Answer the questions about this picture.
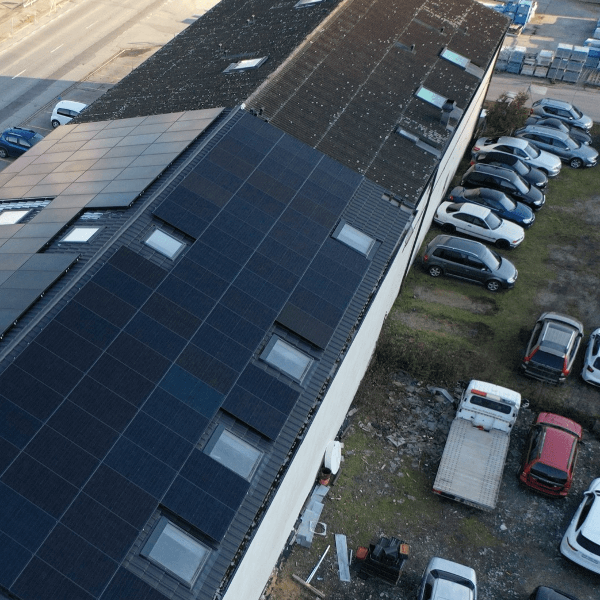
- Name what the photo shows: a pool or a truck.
truck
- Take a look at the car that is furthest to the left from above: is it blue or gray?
blue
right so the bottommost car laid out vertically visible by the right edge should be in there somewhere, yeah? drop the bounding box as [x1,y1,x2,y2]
[555,478,600,583]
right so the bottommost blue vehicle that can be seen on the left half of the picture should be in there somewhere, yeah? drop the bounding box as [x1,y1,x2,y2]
[0,126,44,158]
